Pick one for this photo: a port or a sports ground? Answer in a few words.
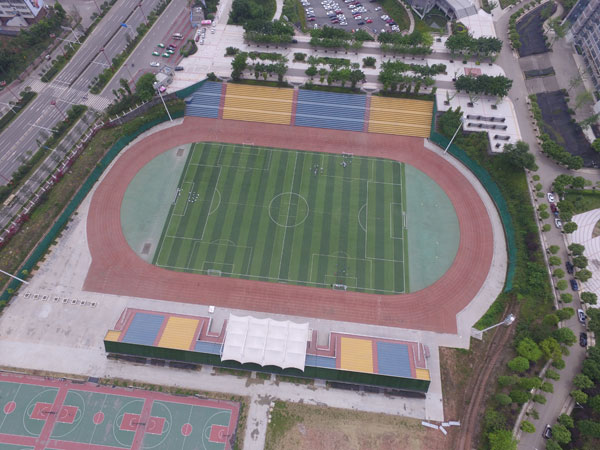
sports ground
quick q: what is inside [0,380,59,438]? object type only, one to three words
basketball court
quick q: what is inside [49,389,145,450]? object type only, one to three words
basketball court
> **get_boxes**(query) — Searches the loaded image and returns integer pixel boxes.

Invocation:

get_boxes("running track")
[81,117,493,334]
